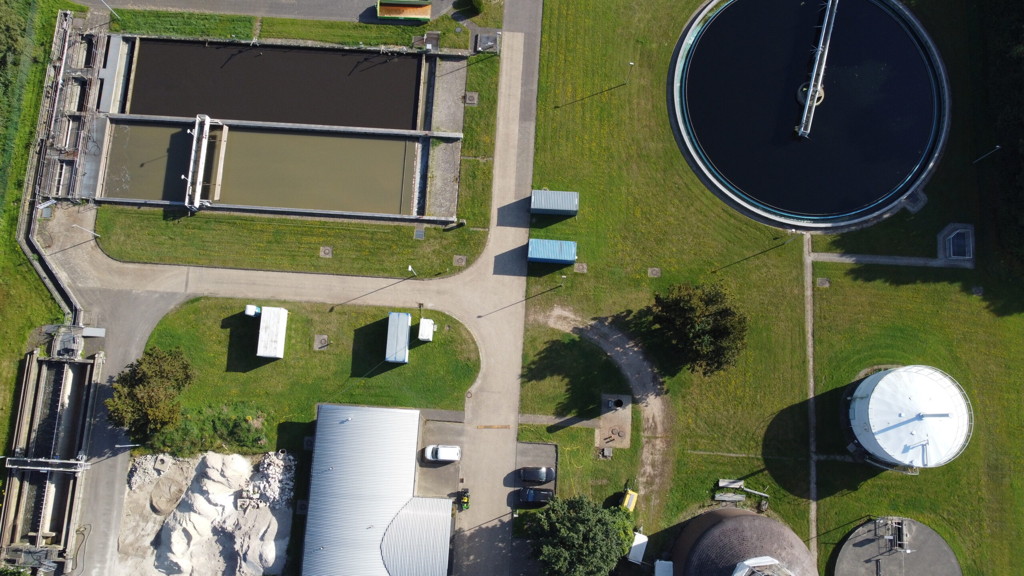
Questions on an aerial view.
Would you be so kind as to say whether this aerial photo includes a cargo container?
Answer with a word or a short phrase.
Yes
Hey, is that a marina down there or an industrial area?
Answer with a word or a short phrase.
industrial area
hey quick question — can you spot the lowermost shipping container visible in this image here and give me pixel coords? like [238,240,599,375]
[527,239,577,265]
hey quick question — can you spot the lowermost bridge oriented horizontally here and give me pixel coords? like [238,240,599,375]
[6,447,90,472]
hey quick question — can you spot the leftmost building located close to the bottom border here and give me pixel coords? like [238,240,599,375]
[301,403,454,576]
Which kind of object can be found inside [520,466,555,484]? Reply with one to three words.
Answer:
car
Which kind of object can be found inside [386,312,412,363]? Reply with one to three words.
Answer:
building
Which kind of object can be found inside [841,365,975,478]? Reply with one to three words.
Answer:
storage tank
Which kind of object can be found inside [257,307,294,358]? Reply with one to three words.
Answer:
building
